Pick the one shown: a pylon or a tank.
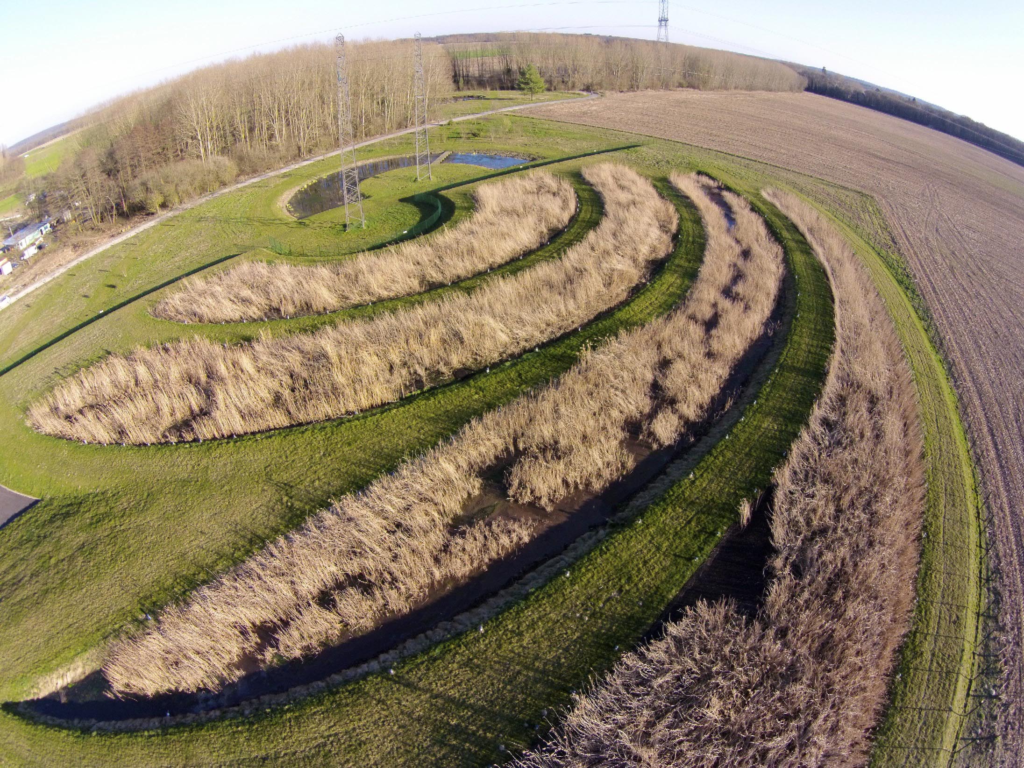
pylon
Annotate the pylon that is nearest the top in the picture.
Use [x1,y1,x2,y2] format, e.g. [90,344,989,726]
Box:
[650,0,673,84]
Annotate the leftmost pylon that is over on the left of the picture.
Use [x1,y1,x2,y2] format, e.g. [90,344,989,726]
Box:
[339,39,368,230]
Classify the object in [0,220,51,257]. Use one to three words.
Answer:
shed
